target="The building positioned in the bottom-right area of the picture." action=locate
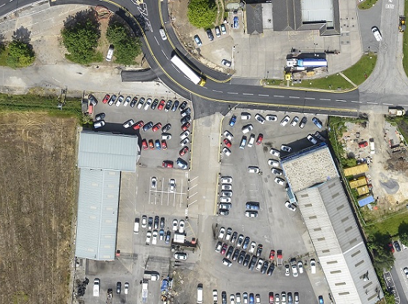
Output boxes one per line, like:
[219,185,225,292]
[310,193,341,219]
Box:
[279,140,387,304]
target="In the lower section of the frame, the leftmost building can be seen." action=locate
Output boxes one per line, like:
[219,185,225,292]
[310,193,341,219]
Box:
[76,128,139,260]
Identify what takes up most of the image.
paved ground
